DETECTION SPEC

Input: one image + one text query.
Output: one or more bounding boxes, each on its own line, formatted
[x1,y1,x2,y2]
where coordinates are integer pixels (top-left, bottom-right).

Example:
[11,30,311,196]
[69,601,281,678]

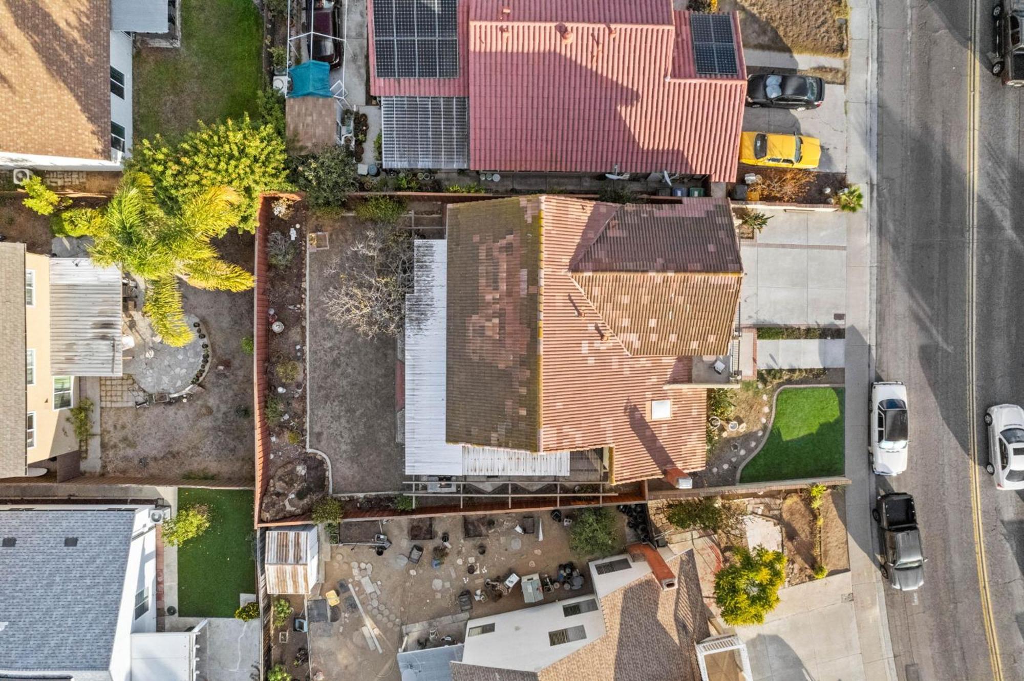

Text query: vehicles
[866,379,916,475]
[991,0,1024,91]
[872,489,925,589]
[740,129,821,169]
[305,0,344,71]
[981,401,1024,490]
[745,69,832,113]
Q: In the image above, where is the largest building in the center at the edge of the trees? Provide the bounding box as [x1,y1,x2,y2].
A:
[445,194,746,493]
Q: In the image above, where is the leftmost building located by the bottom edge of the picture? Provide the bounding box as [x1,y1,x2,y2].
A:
[0,504,157,681]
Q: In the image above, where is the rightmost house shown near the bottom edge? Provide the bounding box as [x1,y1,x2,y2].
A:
[452,532,710,681]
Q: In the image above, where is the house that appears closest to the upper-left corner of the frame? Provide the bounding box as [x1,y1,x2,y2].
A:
[0,0,133,168]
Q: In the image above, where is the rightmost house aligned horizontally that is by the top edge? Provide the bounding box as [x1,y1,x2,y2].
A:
[370,0,748,182]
